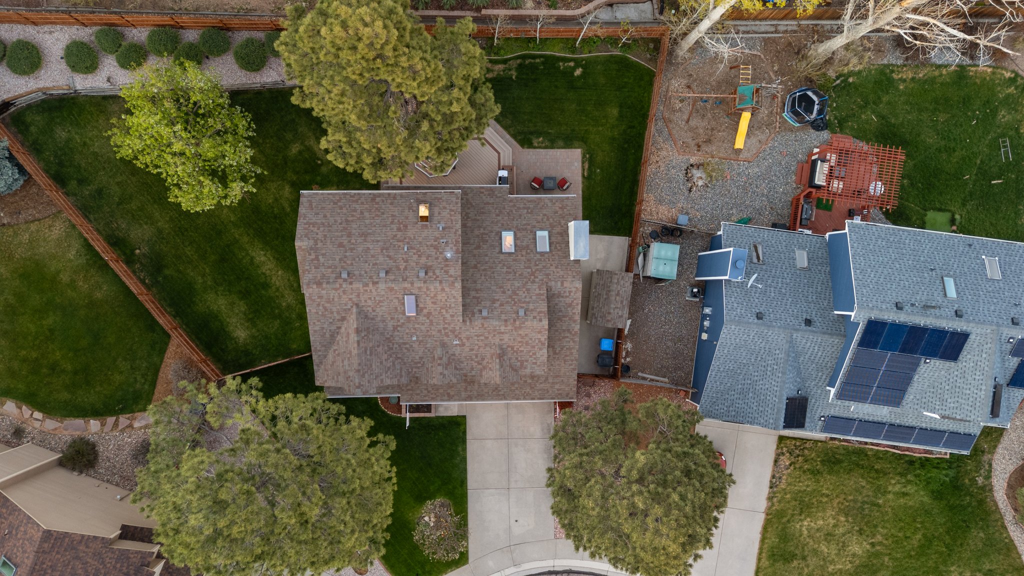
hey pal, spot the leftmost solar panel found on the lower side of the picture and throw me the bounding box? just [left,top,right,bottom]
[786,398,810,429]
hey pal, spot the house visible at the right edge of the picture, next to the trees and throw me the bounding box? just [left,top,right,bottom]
[687,219,1024,455]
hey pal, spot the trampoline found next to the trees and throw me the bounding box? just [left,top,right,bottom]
[782,79,838,128]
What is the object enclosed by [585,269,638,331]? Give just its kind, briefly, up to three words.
shed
